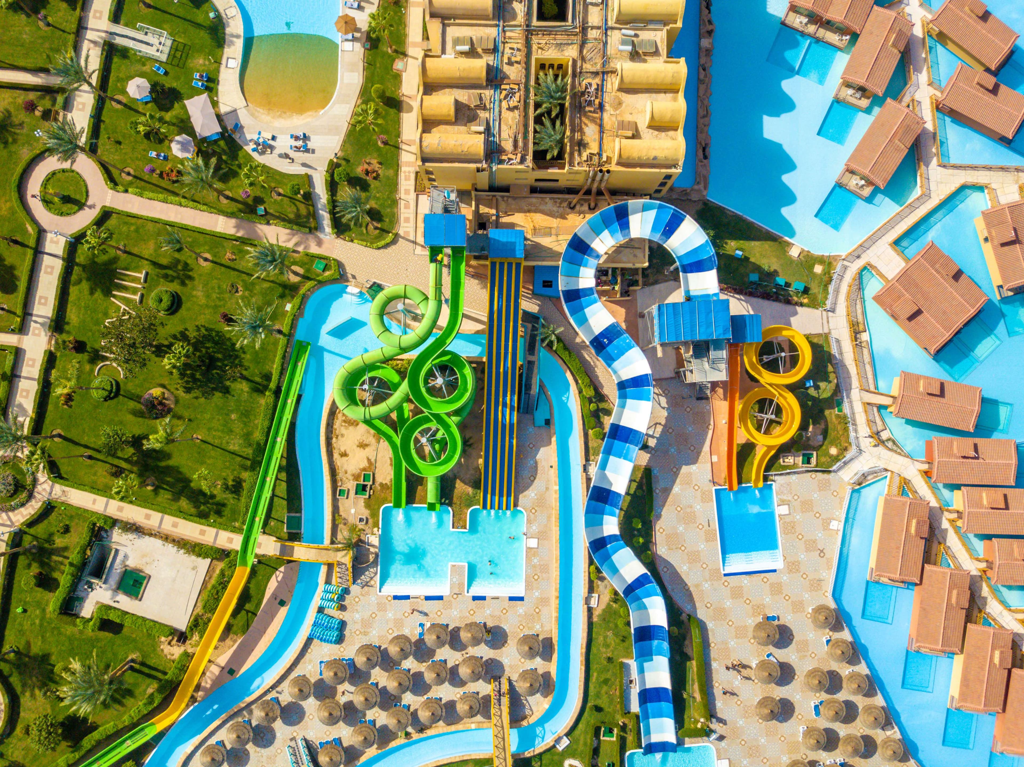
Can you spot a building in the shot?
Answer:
Yes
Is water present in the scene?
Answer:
Yes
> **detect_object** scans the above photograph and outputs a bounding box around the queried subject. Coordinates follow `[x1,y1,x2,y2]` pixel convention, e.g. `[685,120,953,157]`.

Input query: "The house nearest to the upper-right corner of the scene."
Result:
[925,0,1021,75]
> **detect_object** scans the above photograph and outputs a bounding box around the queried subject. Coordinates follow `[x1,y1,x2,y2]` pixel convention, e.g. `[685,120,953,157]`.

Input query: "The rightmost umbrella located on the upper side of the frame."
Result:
[335,13,357,36]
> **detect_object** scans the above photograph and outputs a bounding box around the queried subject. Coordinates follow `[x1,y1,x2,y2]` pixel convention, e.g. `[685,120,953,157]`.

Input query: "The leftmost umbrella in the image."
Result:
[126,76,153,100]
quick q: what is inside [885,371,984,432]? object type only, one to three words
house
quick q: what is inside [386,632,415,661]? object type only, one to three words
umbrella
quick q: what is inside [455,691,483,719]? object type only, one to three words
umbrella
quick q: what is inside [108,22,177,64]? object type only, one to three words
building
